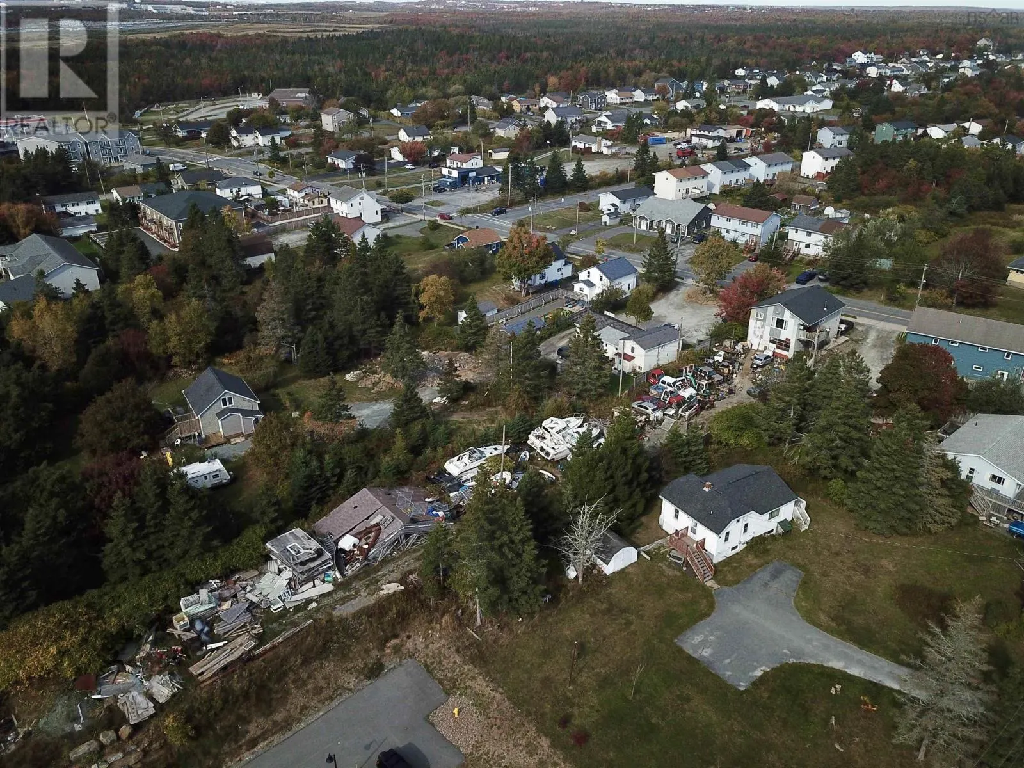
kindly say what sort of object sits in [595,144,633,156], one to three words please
building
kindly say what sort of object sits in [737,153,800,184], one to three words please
house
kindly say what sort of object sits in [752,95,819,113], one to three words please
building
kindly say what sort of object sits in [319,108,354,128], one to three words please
house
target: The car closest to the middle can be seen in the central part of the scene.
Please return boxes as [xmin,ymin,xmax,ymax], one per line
[555,344,574,357]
